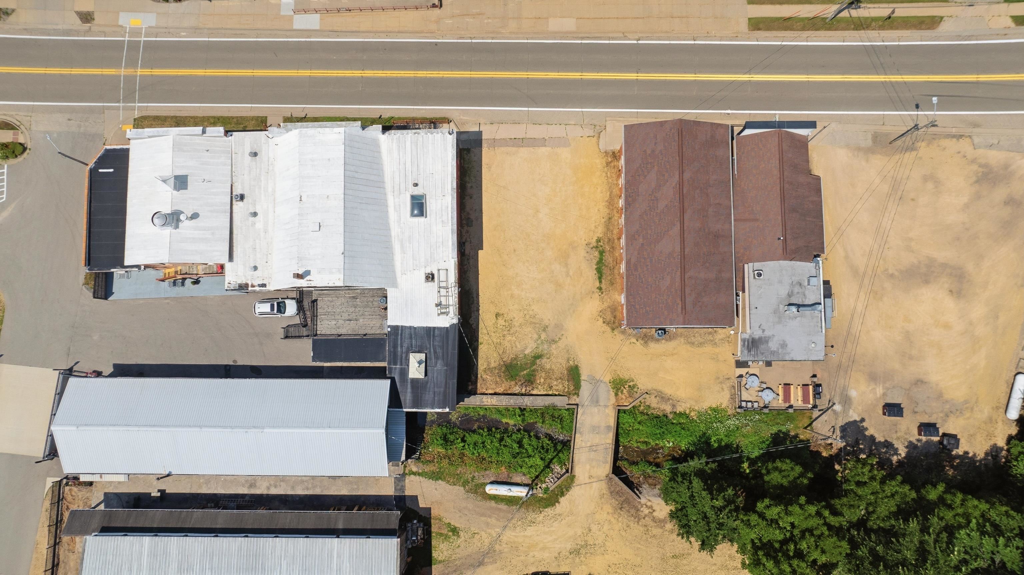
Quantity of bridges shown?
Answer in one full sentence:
There is 1 bridge in the image.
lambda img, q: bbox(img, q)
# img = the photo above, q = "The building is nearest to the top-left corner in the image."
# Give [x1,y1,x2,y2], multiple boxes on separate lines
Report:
[81,127,233,275]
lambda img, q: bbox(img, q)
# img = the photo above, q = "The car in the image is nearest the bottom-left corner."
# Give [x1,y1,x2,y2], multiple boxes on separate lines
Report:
[254,296,300,317]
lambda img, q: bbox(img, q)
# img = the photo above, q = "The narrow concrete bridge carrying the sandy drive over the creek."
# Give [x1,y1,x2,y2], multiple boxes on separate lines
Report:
[568,406,619,477]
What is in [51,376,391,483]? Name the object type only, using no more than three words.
building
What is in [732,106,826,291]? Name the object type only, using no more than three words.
building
